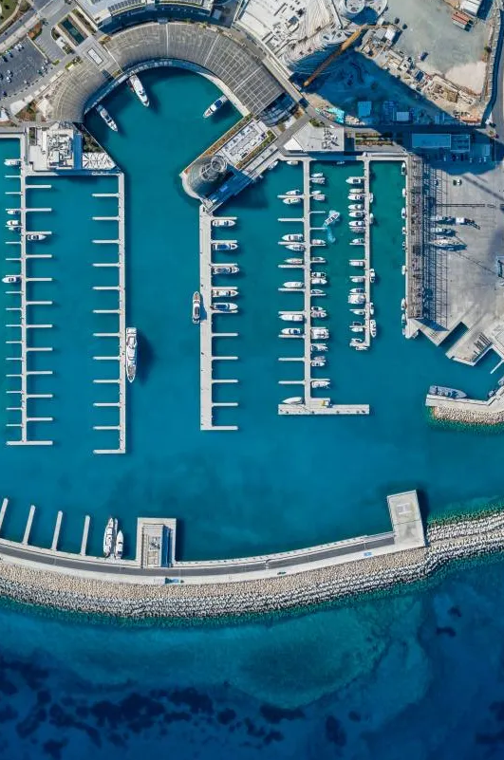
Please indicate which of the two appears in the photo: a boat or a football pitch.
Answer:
boat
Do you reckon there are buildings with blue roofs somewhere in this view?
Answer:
Yes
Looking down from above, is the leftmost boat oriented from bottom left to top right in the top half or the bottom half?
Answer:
top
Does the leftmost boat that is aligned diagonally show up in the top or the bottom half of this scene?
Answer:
top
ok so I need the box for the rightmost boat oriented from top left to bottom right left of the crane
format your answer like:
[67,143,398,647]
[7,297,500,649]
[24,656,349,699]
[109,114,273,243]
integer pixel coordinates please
[125,73,148,105]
